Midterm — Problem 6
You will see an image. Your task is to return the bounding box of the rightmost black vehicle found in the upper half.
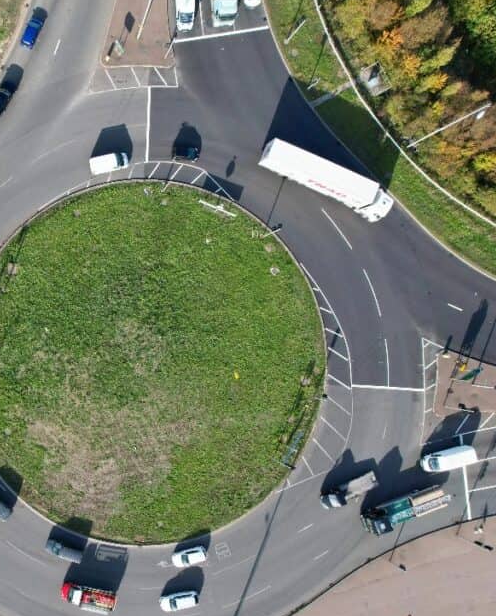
[169,146,202,165]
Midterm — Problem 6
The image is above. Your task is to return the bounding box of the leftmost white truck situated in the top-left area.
[88,151,130,177]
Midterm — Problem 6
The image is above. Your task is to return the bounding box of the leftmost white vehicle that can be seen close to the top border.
[174,0,196,31]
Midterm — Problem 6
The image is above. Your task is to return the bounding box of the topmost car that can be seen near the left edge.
[21,17,43,50]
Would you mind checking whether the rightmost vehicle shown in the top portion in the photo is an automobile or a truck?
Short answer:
truck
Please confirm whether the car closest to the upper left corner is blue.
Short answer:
Yes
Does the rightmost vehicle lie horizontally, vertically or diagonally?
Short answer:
horizontally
